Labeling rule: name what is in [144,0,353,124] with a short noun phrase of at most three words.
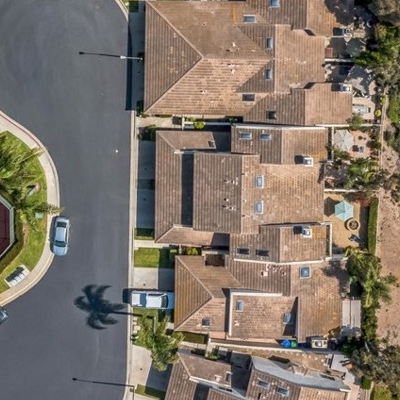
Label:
house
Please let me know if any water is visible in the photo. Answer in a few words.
No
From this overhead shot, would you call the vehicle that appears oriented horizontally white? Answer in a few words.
Yes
